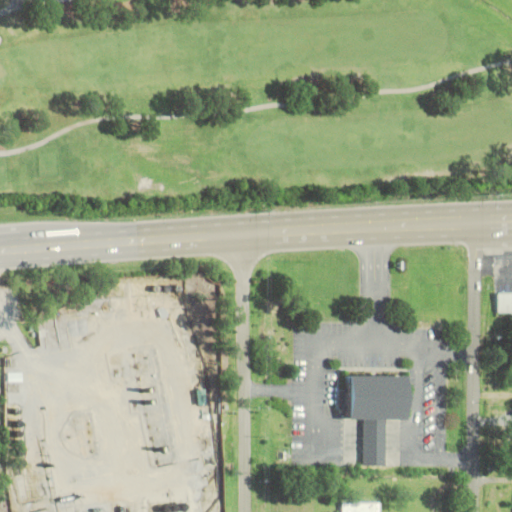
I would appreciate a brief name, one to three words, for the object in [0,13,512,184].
golf course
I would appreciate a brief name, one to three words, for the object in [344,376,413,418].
building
